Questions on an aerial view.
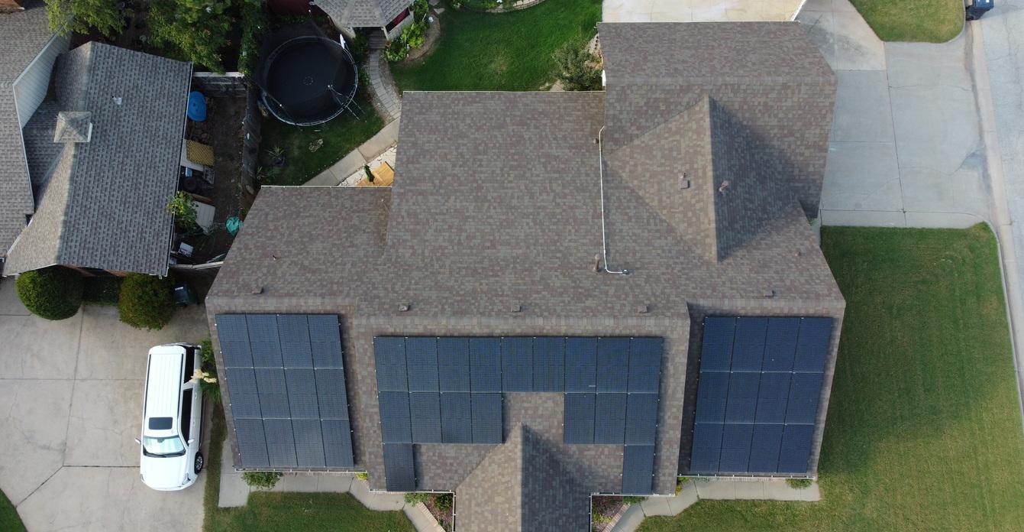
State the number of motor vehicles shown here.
one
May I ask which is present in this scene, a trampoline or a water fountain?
trampoline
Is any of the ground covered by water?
No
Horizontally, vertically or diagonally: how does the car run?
vertically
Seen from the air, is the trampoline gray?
No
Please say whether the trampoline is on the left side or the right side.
left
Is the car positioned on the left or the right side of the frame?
left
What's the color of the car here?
white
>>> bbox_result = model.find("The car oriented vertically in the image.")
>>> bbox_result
[135,341,210,493]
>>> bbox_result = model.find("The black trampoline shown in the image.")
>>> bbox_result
[251,18,366,131]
